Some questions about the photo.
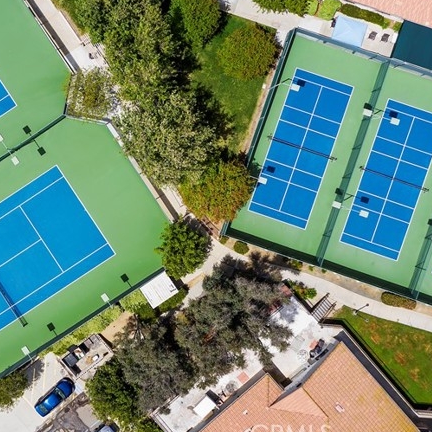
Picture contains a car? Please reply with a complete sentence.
Yes, I can see a car in this picture.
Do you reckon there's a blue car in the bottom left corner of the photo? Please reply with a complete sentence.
Yes, looking in the bottom left corner of the photo, one can make out a blue car.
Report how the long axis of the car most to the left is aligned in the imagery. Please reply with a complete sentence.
I'd say the car most to the left is aligned diagonally in the picture.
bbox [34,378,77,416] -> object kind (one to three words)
car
